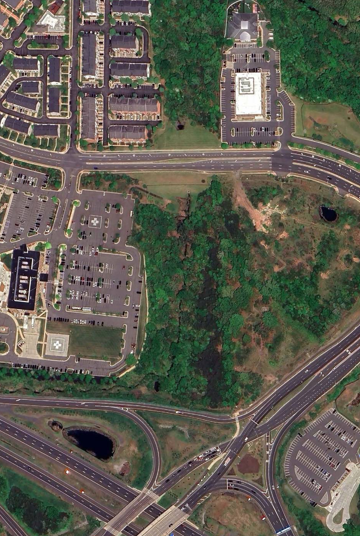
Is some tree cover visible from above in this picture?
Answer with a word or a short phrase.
Yes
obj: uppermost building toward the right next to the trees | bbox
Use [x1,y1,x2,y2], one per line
[227,12,258,41]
